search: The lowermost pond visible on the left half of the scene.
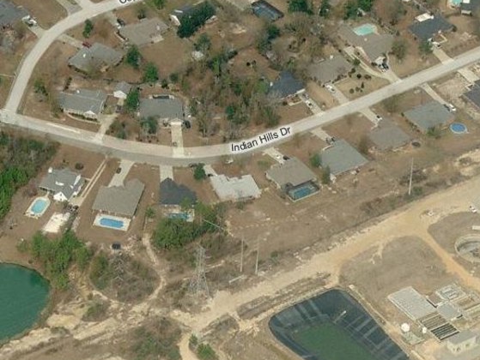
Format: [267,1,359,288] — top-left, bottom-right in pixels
[0,263,50,347]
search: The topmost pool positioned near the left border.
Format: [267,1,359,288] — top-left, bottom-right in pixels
[23,196,54,217]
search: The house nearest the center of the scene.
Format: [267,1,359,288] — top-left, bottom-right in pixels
[211,174,261,204]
